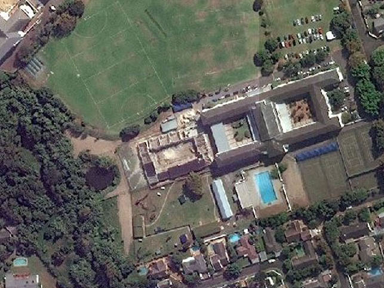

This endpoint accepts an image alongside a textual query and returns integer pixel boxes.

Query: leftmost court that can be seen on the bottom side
[296,150,346,202]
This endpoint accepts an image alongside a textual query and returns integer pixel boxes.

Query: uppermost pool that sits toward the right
[236,163,285,209]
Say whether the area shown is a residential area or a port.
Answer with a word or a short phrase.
residential area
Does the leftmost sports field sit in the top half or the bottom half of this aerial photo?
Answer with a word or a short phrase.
top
